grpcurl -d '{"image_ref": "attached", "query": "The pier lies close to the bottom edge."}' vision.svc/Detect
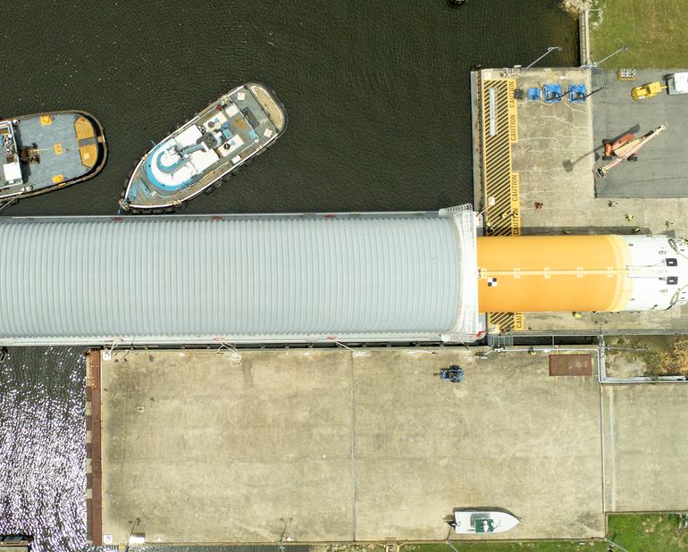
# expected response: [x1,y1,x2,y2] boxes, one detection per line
[86,341,605,545]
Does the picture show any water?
Yes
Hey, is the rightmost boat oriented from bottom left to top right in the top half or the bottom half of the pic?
top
